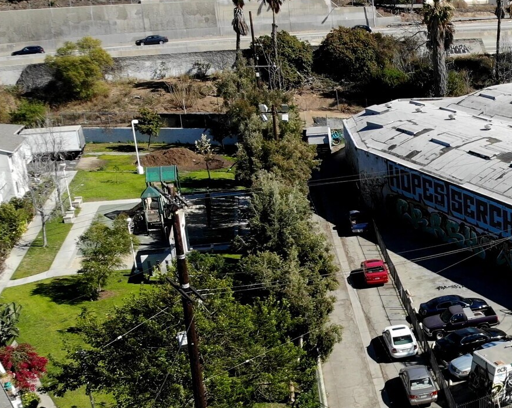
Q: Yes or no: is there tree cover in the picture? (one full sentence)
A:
Yes, tree cover can be seen from above here.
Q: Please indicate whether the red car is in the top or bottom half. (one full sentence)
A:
You can find the red car in the bottom half.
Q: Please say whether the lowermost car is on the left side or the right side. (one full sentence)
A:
The lowermost car is on the right side of the image.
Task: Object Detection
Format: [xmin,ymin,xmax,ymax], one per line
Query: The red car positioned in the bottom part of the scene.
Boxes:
[359,254,388,281]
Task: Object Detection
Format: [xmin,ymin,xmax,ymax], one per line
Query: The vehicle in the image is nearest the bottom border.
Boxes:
[395,364,437,403]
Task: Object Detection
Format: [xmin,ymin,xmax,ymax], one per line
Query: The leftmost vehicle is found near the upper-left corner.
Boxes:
[8,41,46,57]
